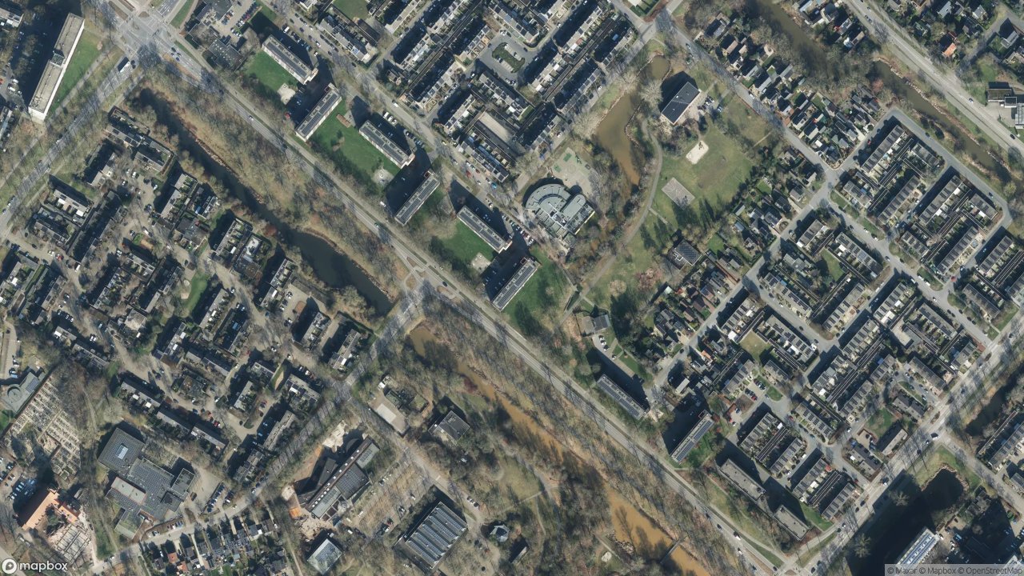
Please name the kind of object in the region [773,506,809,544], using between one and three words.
building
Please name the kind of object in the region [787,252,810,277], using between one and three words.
house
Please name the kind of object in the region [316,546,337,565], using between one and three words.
solar array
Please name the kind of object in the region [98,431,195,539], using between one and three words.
building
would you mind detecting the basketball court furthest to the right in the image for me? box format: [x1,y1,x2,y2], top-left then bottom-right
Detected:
[662,178,695,210]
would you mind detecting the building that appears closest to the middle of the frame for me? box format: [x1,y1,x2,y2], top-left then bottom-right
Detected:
[492,257,539,315]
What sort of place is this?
residential area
